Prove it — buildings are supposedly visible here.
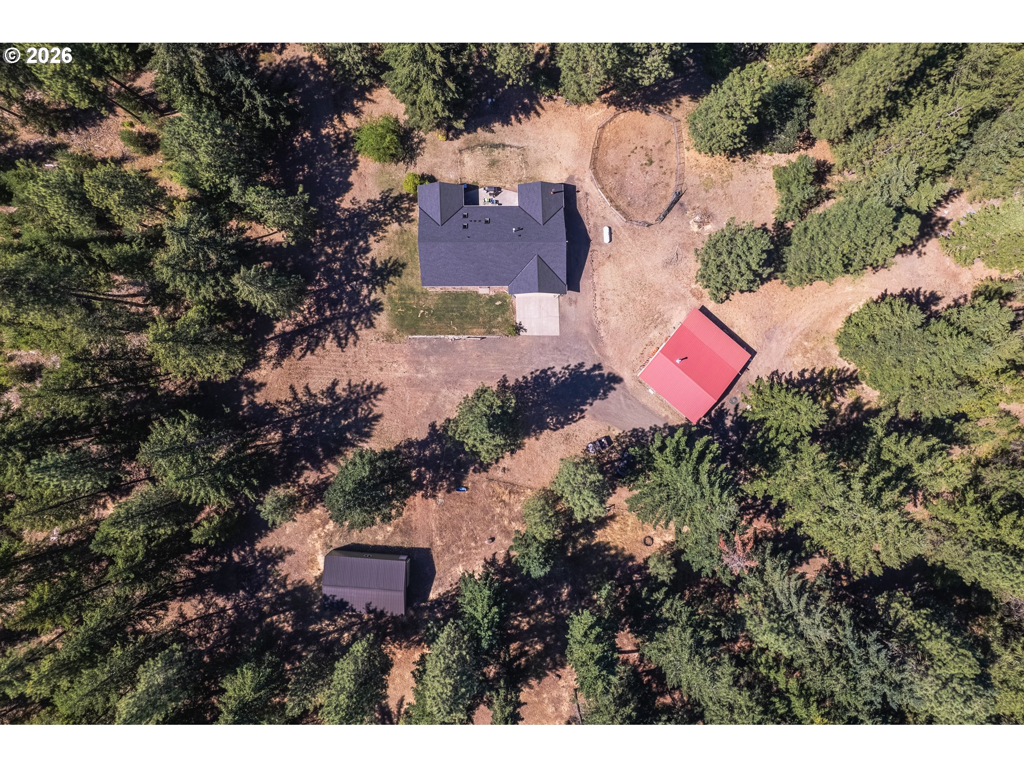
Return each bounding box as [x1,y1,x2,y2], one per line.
[637,308,752,424]
[320,551,409,615]
[417,181,568,294]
